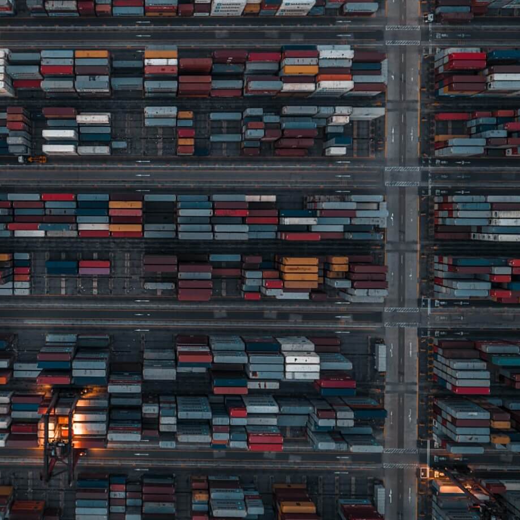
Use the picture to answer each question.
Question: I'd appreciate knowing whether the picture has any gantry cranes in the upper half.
No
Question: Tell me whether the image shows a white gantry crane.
No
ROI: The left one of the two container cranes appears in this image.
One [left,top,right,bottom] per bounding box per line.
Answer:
[44,387,89,483]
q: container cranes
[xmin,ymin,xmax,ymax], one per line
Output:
[431,473,506,520]
[44,387,89,483]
